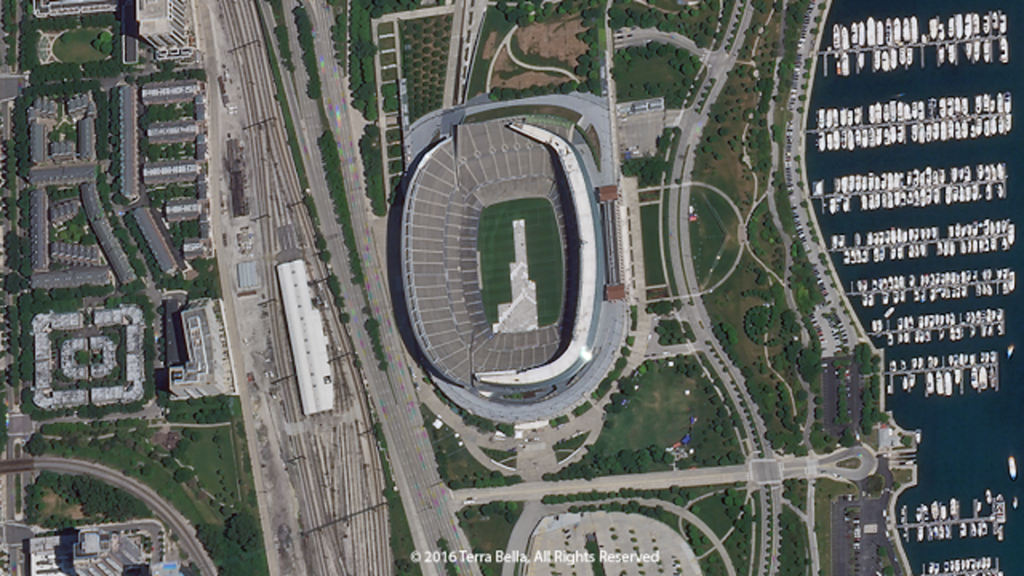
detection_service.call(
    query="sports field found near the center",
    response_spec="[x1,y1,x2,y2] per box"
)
[477,197,565,333]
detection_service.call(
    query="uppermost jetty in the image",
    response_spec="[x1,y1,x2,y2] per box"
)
[818,20,1007,77]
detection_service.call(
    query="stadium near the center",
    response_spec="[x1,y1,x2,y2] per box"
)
[400,94,630,421]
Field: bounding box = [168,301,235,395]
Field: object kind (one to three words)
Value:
building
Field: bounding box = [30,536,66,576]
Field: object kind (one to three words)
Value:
building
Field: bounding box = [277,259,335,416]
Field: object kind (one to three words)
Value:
shed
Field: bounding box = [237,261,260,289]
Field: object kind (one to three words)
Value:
shed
